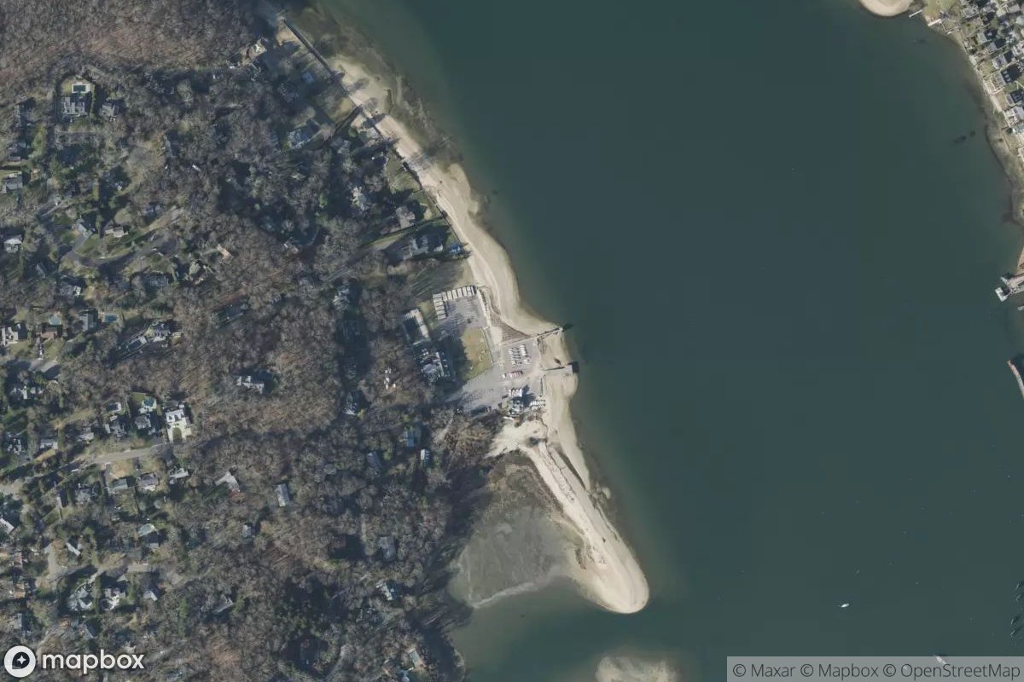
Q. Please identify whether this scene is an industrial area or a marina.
marina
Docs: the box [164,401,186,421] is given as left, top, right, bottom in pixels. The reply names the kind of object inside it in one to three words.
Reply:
house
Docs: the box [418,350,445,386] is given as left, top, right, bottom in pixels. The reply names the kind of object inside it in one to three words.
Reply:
building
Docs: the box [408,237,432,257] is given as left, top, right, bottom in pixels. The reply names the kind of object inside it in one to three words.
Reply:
house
